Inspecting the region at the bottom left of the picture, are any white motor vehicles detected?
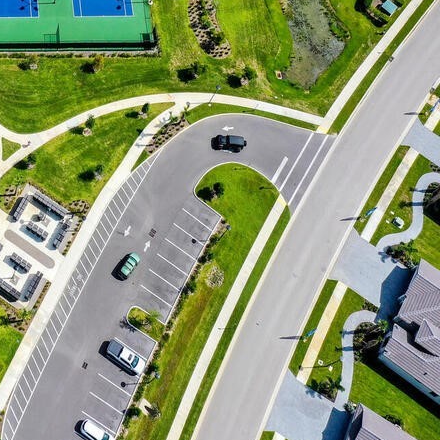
Yes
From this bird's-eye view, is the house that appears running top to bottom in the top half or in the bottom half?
bottom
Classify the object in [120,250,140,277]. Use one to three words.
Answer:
car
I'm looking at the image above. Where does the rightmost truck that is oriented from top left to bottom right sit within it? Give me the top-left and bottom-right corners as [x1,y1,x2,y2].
[109,338,147,373]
